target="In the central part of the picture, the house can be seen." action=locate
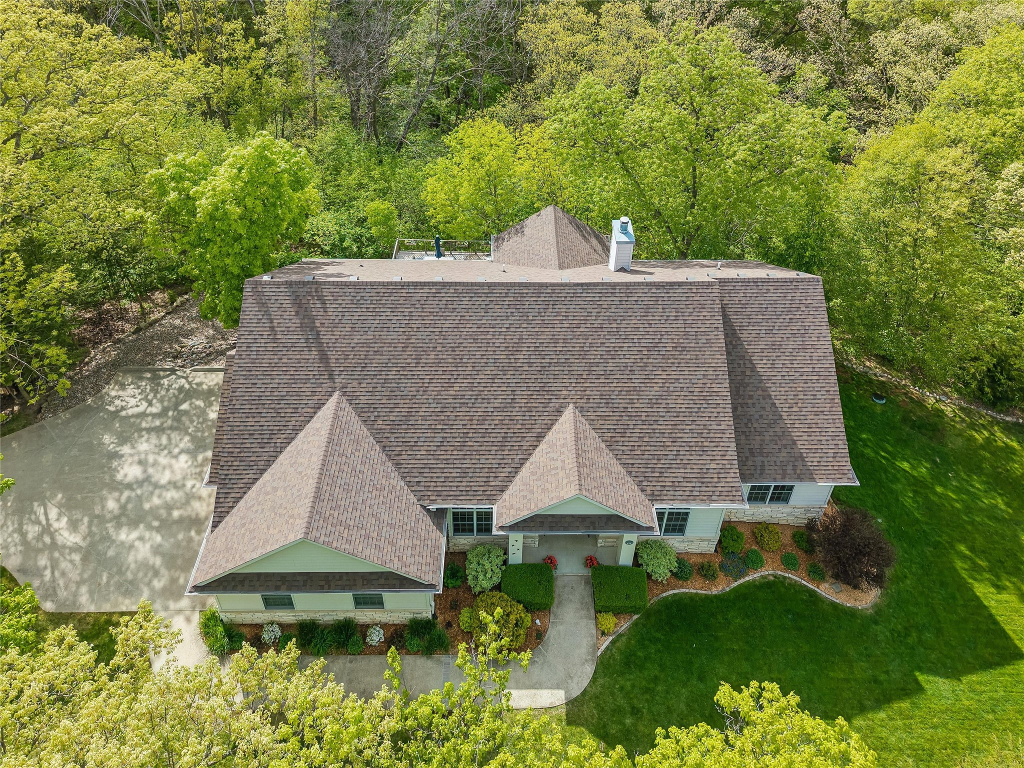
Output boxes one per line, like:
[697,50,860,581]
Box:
[188,204,857,637]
